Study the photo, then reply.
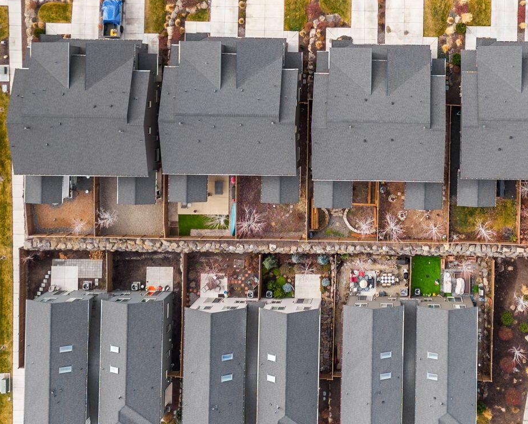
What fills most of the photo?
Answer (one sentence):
For the most part, this view shows buildings.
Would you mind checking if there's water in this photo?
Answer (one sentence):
No, the picture contains no water.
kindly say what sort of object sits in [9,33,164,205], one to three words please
house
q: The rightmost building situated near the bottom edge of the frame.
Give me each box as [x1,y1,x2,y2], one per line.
[340,294,479,424]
